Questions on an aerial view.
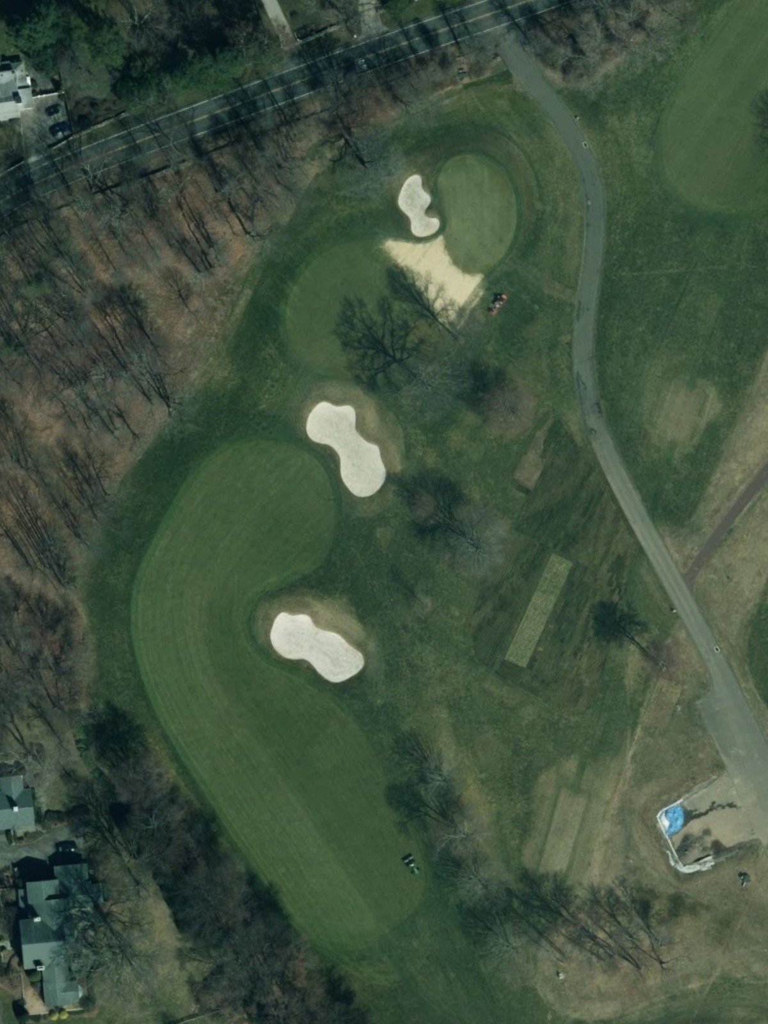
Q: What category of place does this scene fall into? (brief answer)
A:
golf course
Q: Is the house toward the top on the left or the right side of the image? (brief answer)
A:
left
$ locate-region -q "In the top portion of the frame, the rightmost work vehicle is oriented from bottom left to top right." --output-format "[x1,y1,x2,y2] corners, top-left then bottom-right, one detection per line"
[490,292,506,313]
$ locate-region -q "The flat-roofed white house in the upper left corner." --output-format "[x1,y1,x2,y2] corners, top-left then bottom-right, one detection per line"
[0,58,35,122]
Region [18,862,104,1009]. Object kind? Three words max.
house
